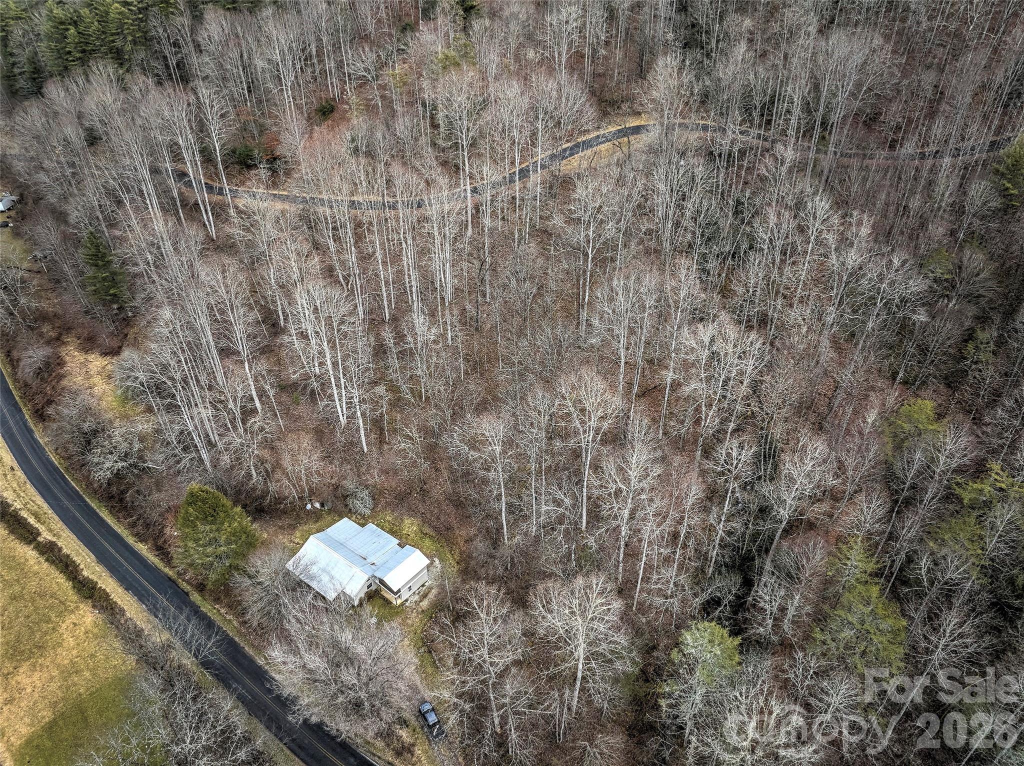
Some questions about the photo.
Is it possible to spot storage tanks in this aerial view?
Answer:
No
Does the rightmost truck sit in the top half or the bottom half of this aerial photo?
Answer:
bottom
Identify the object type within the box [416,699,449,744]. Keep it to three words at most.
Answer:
truck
